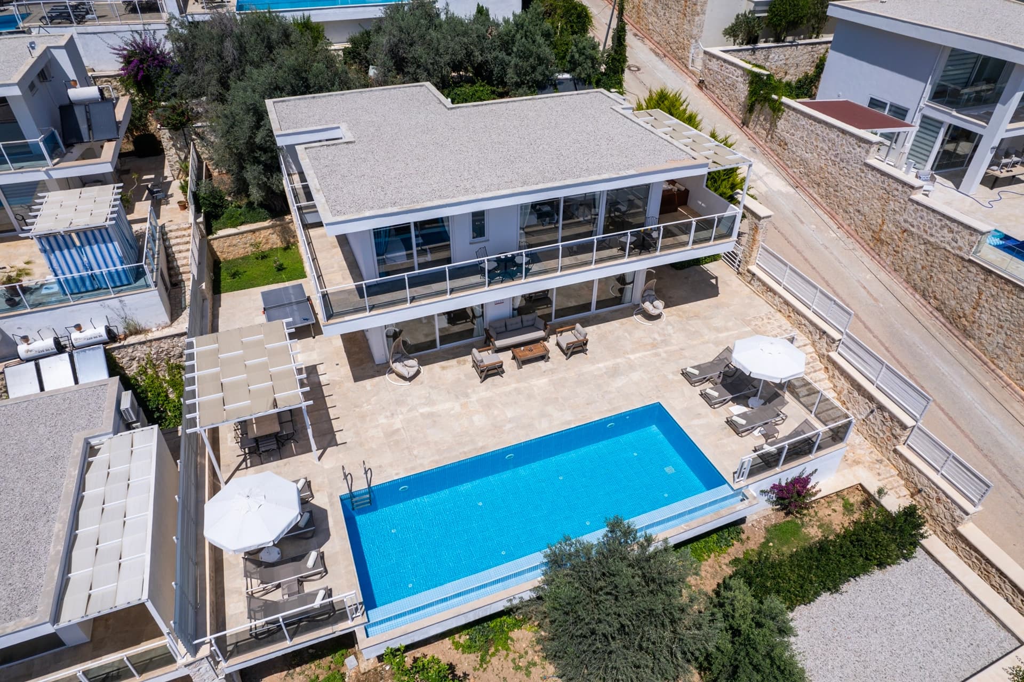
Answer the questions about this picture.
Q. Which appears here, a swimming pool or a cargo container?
swimming pool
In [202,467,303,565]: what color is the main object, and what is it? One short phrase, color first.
white umbrella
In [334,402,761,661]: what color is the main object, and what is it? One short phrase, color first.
blue swimming pool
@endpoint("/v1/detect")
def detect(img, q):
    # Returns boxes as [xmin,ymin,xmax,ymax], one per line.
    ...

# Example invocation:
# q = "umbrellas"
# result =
[733,334,809,407]
[202,467,303,565]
